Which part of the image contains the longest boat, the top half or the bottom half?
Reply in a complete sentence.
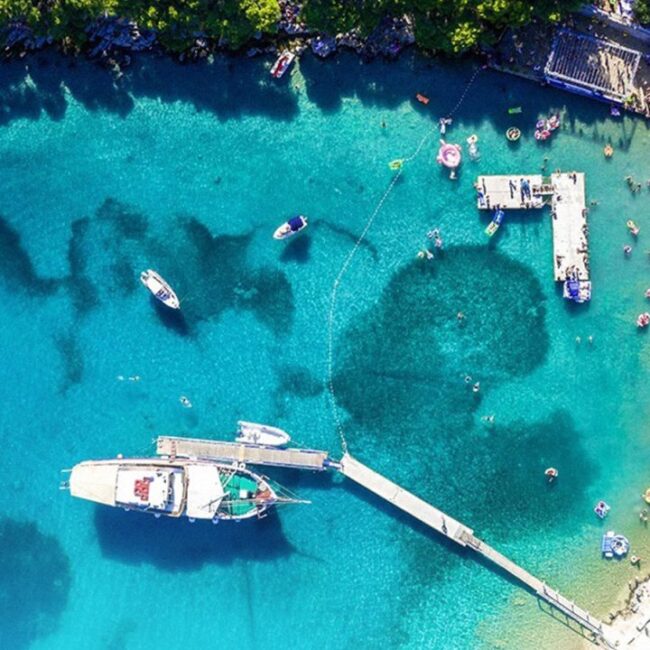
It is in the bottom half that the longest boat appears.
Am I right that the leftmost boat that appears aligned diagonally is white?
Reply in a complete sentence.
Yes, the leftmost boat that appears aligned diagonally is white.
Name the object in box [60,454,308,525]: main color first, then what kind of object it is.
white boat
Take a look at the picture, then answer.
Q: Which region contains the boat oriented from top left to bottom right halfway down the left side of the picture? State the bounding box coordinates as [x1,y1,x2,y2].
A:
[135,265,180,307]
